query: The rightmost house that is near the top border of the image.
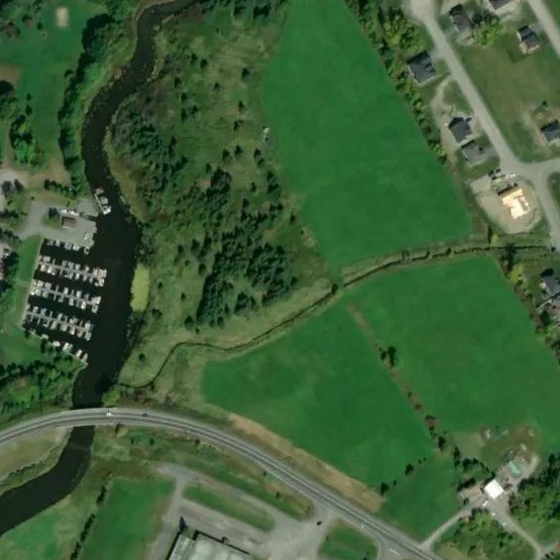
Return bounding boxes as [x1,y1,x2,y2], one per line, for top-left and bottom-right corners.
[517,24,539,50]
